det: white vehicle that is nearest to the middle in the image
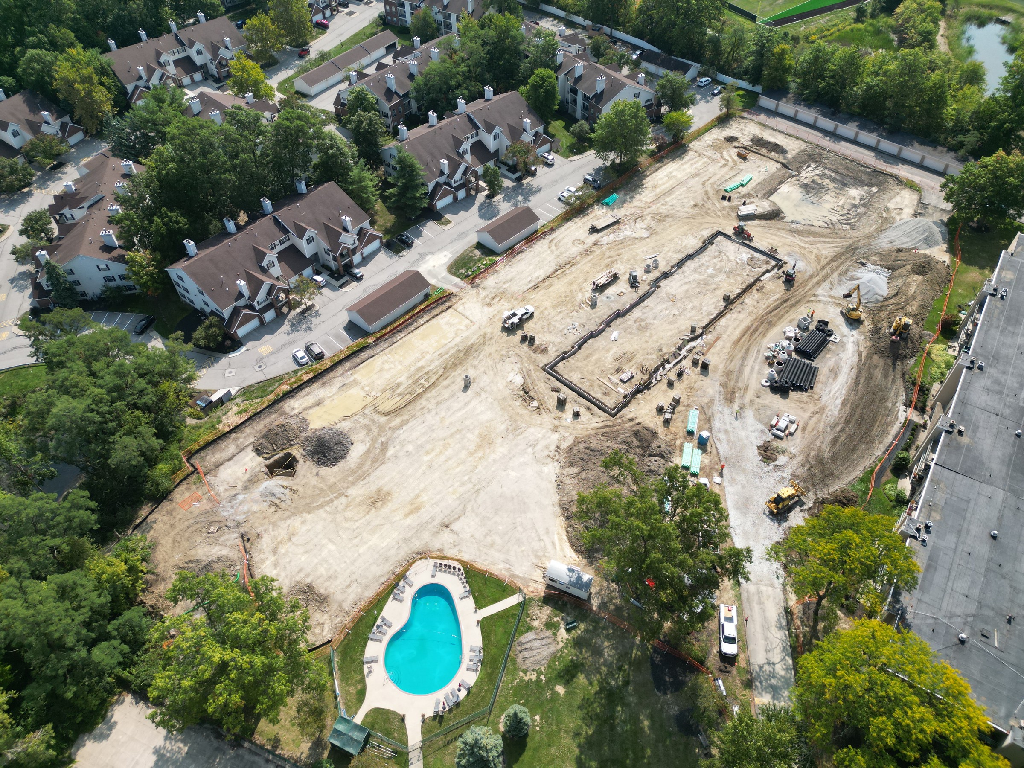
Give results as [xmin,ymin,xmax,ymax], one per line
[502,306,534,328]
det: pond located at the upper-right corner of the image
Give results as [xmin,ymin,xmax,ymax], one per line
[964,23,1012,88]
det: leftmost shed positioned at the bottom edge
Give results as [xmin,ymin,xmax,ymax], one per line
[328,716,370,757]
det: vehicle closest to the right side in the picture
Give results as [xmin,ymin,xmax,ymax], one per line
[893,316,915,343]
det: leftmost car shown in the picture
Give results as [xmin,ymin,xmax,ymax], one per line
[132,314,158,334]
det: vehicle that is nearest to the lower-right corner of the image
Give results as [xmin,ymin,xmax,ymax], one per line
[719,603,738,655]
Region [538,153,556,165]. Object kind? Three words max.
vehicle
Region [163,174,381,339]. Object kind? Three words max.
house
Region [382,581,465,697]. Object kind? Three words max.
swimming pool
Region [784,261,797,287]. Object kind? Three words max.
vehicle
